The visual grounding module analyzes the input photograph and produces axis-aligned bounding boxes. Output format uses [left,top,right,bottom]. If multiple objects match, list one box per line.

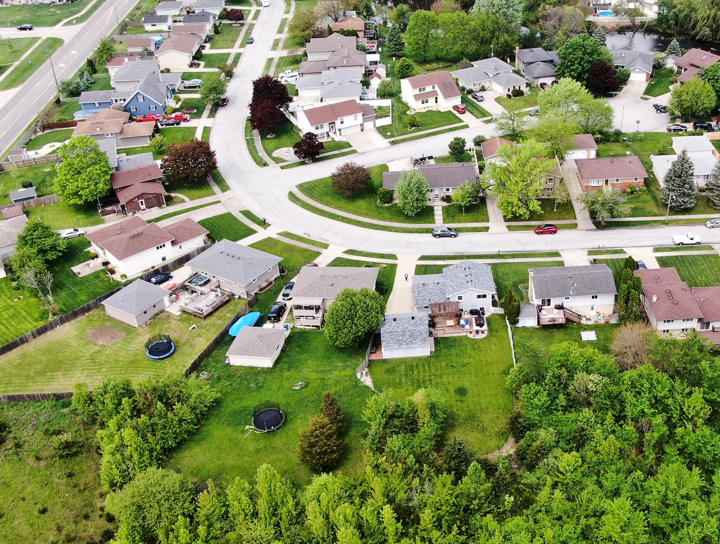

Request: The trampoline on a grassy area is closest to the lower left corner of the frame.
[145,334,175,360]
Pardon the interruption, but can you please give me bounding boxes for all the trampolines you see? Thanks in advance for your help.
[145,334,175,360]
[251,400,285,434]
